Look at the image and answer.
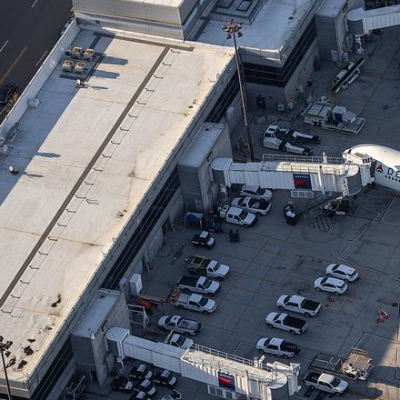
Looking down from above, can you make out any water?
No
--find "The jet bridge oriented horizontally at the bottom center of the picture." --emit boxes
[103,324,310,400]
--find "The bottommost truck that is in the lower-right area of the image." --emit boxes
[307,370,348,394]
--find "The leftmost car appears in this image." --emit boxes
[0,79,20,105]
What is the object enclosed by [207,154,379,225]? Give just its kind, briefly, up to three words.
jet bridge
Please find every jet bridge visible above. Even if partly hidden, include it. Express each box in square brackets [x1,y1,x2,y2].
[103,324,310,400]
[343,2,400,58]
[207,154,379,225]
